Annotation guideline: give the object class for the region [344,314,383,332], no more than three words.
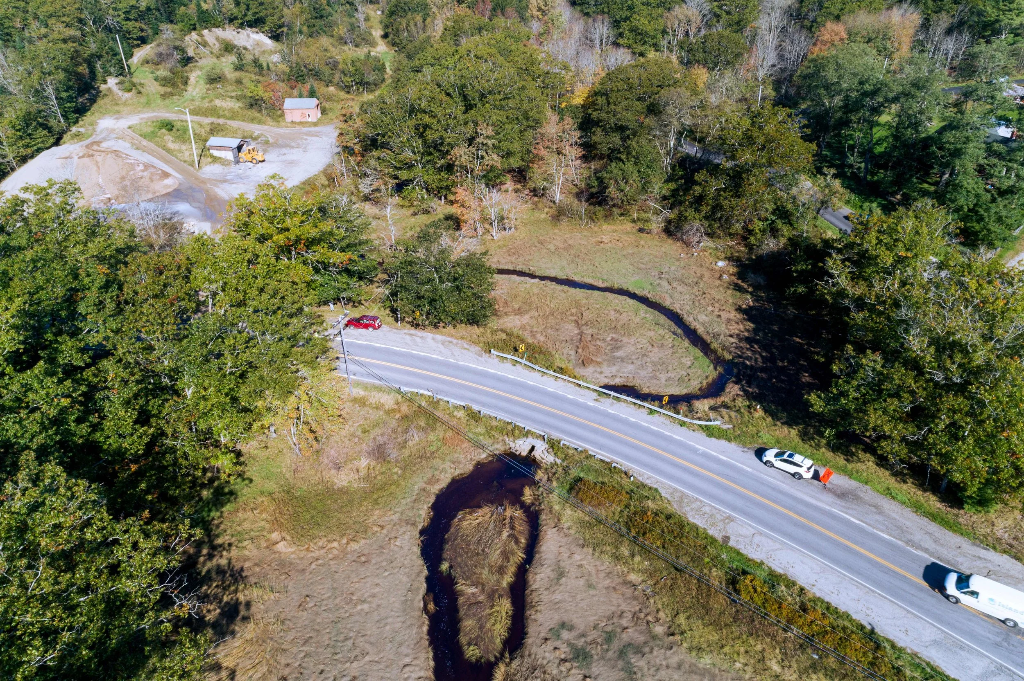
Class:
car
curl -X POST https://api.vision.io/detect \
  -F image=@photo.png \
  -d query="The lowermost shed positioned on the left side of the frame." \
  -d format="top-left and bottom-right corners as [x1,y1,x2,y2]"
[204,131,261,163]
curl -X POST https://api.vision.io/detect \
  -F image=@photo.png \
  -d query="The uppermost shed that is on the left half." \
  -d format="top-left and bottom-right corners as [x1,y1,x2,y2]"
[283,97,326,120]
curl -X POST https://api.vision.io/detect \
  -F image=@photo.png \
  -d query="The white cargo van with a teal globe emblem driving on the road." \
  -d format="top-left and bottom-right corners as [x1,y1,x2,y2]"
[943,572,1024,629]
